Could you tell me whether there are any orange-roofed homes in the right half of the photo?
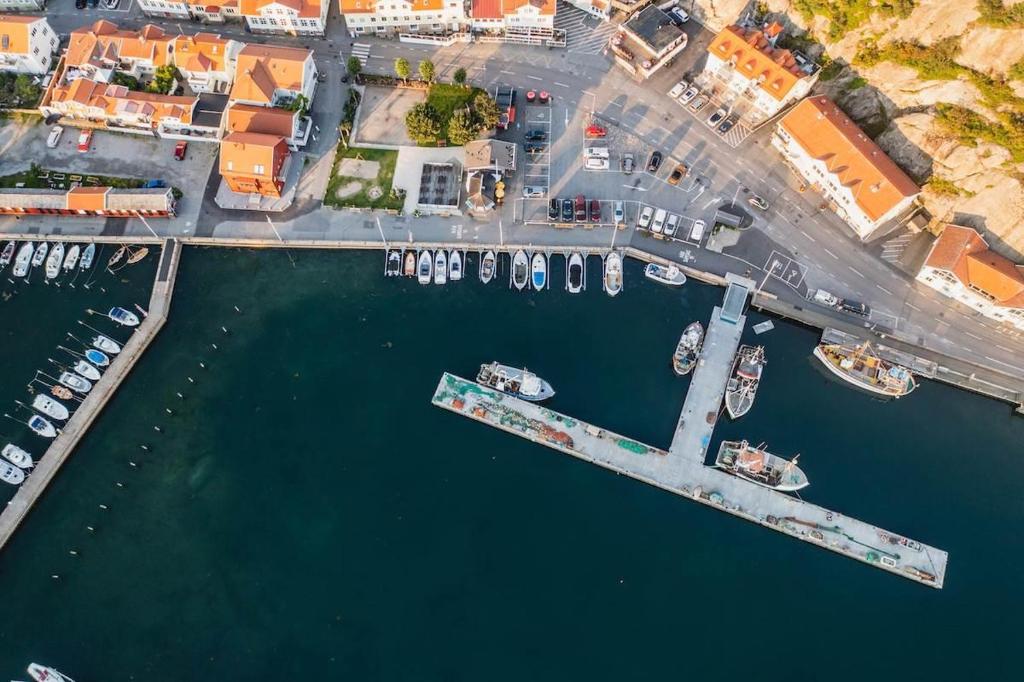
Yes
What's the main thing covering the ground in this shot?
water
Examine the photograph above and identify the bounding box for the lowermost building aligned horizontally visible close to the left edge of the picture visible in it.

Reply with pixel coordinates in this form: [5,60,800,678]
[0,186,177,217]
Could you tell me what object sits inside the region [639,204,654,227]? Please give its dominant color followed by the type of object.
white car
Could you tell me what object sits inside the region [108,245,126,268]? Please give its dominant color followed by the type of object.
gray boat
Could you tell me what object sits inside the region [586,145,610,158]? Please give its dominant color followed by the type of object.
white vehicle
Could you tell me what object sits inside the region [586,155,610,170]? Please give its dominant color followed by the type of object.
white vehicle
